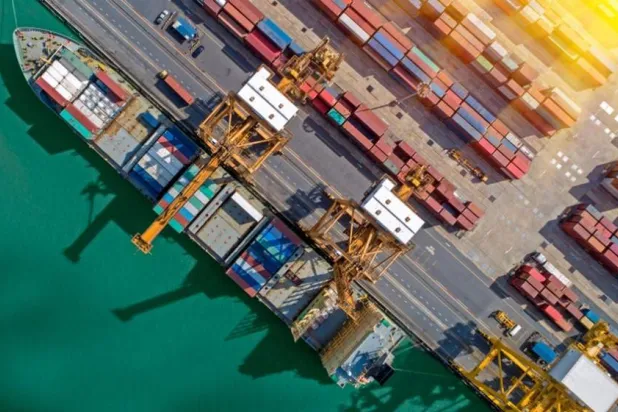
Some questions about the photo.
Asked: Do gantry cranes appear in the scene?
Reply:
Yes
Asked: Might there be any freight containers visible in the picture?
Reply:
Yes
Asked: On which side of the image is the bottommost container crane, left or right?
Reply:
right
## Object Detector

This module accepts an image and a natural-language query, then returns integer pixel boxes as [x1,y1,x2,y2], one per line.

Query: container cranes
[124,27,340,261]
[300,156,448,341]
[445,308,618,412]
